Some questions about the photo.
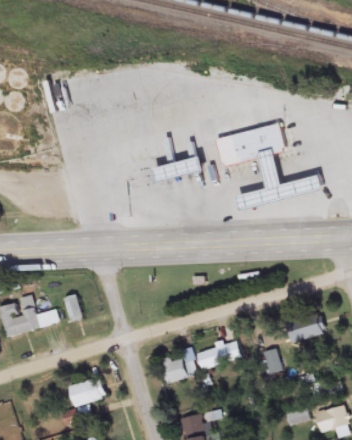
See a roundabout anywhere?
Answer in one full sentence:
No, the scene contains no roundabout.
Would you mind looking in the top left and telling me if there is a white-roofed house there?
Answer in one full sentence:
No, looking in the top left, there is no white-roofed house.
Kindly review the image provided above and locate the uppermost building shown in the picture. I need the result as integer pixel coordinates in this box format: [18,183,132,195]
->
[218,122,286,166]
